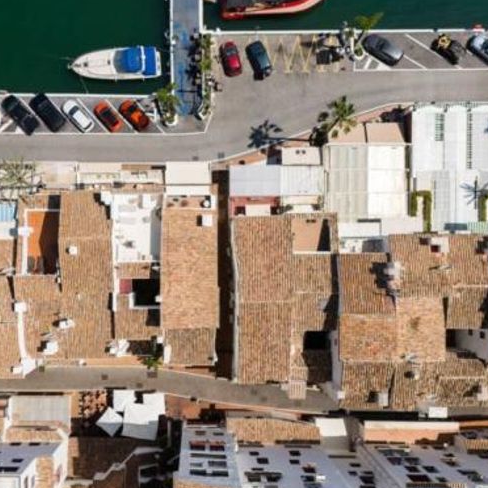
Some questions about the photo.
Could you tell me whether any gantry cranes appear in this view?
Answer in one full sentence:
No, there's no gantry crane here.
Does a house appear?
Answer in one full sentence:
Yes, this view includes a house.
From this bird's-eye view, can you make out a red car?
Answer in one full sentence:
Yes, the photo shows a red car.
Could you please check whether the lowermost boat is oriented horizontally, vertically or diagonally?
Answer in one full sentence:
The lowermost boat is oriented horizontally.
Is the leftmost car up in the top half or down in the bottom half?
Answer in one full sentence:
The leftmost car sits in the top half of the picture.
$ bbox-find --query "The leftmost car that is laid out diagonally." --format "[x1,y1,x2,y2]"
[2,94,39,135]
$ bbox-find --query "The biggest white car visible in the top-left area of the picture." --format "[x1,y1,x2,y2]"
[63,99,95,135]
